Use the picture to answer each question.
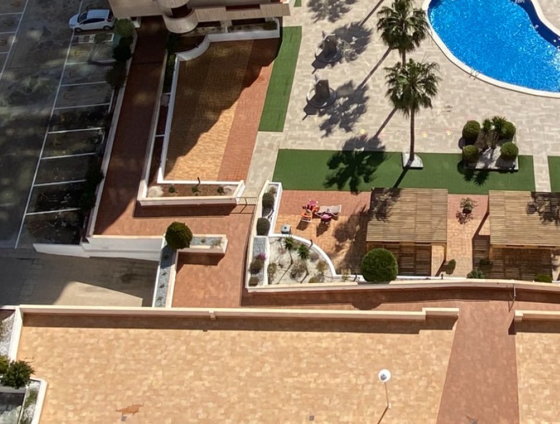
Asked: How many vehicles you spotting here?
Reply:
1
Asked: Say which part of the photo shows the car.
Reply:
top left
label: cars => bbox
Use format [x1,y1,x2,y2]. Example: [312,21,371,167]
[64,10,112,35]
